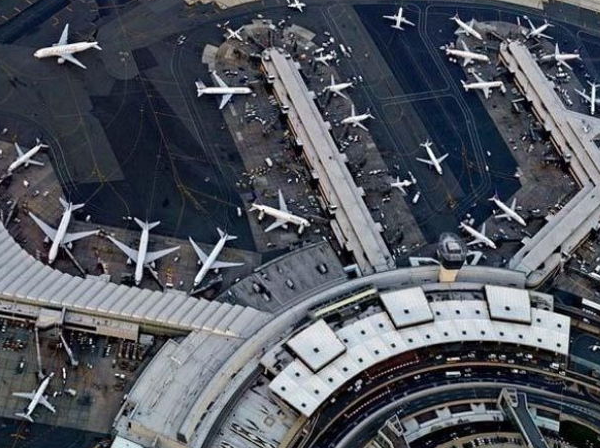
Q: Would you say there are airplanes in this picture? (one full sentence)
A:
Yes, there's an airplane down there.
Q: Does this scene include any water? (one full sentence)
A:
No, the picture contains no water.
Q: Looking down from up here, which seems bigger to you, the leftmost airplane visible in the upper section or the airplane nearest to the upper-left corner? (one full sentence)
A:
The larger object is the airplane nearest to the upper-left corner, with the leftmost airplane visible in the upper section being the smaller of the pair.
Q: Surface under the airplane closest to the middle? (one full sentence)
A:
From above, the airplane closest to the middle can be seen on the apron.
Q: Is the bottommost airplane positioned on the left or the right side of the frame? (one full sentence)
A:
The bottommost airplane is on the left side of the image.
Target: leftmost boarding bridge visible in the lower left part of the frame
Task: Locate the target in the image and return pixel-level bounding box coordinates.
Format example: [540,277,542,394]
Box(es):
[33,324,47,380]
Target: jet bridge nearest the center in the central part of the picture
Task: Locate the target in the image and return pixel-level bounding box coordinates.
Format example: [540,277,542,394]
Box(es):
[309,214,331,228]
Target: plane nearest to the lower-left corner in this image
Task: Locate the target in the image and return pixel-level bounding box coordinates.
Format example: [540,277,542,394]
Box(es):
[15,374,61,420]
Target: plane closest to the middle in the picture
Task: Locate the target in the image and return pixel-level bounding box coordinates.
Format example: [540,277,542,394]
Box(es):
[248,189,310,234]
